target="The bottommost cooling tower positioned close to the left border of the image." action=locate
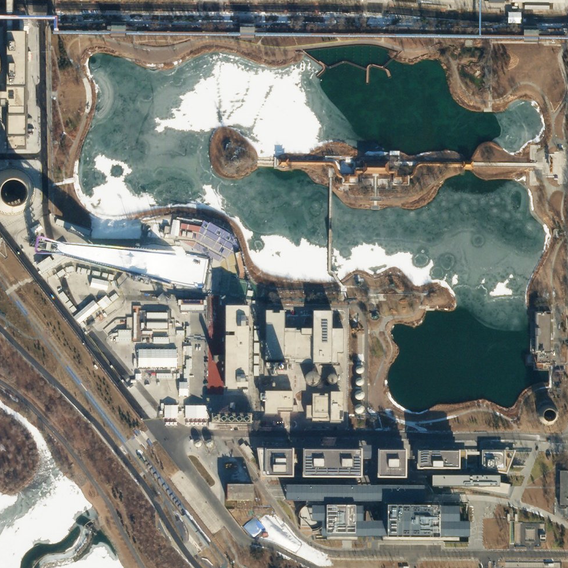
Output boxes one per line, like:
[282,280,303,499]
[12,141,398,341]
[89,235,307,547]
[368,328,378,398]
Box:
[0,166,36,215]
